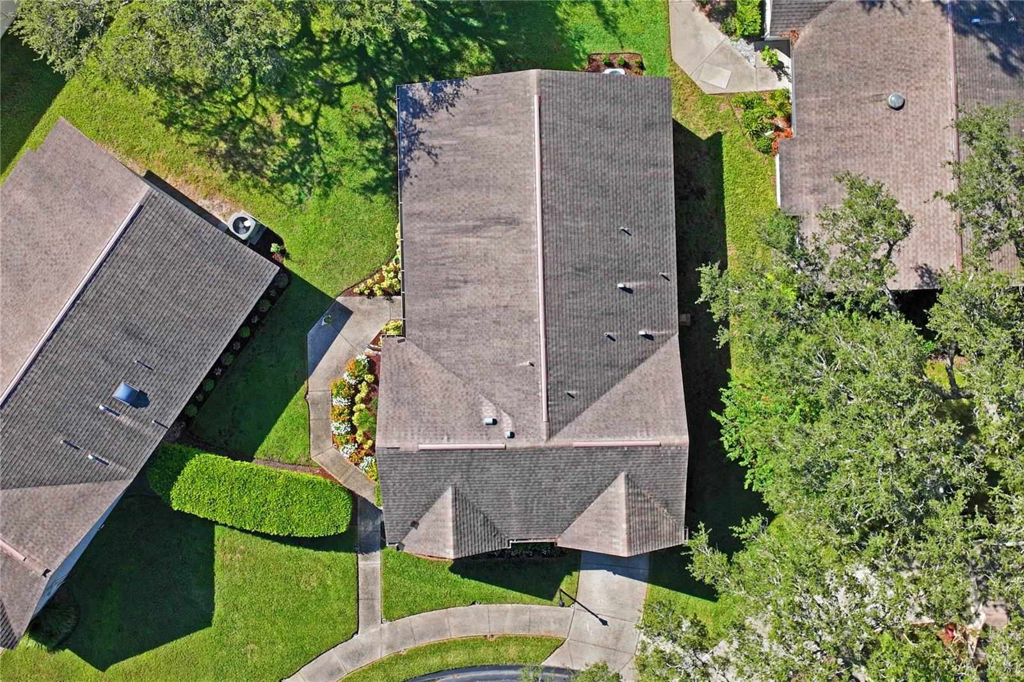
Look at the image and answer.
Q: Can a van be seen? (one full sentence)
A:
No, no van is visible in the view.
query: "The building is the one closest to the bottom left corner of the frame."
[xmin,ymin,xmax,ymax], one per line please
[0,116,280,654]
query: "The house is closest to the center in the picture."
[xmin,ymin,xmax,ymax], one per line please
[378,68,691,559]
